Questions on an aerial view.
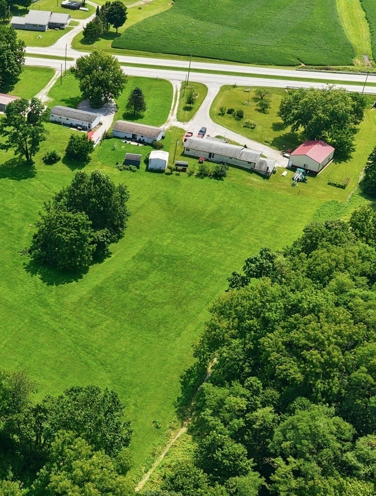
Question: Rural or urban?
rural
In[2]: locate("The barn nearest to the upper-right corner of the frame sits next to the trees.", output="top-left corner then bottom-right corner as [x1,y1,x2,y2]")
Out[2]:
[287,137,335,177]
